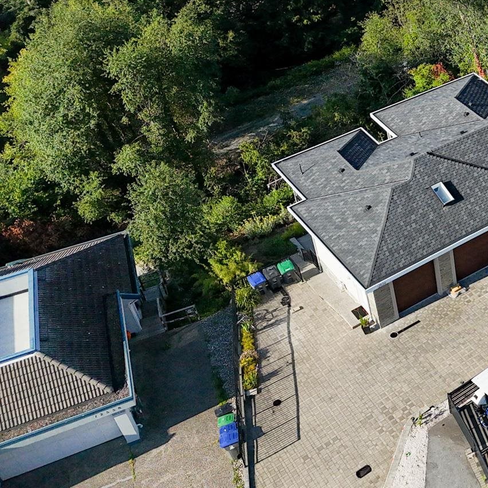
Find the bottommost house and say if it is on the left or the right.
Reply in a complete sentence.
You can find the bottommost house on the left side of the picture.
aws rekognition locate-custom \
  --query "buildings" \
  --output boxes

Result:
[0,239,157,488]
[269,71,488,329]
